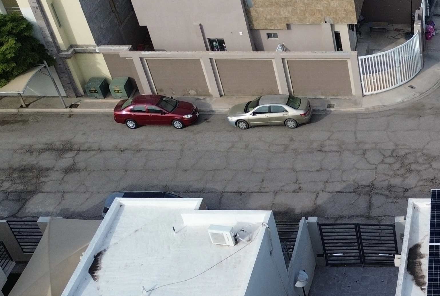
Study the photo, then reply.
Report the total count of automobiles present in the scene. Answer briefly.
3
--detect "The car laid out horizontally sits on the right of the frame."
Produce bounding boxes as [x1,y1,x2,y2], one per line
[224,94,312,131]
